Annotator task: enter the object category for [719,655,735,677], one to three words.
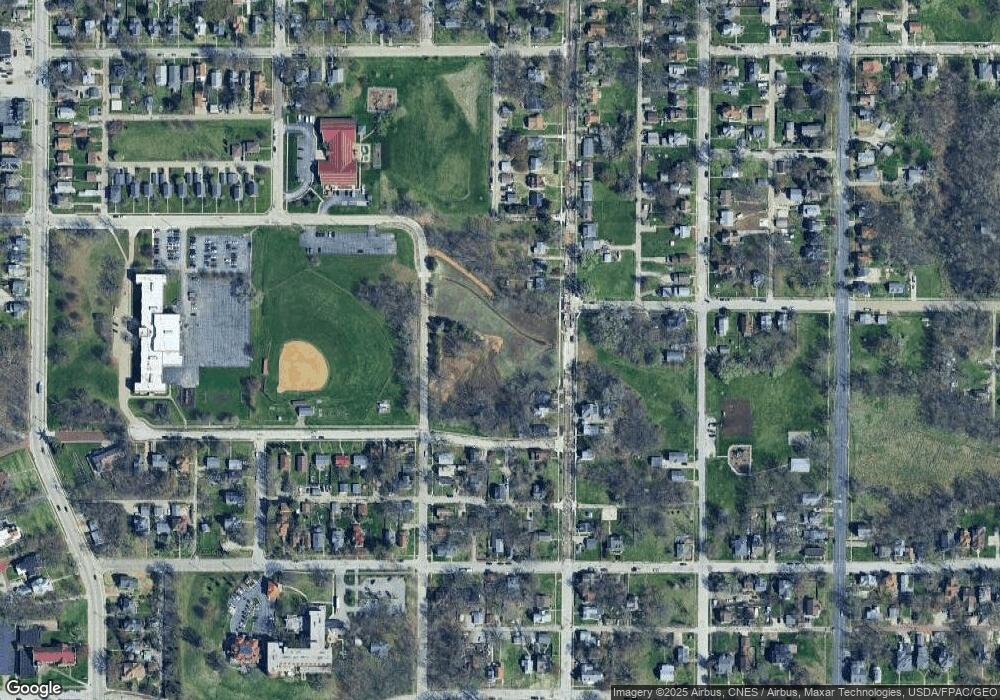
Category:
house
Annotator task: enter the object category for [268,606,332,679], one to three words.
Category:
building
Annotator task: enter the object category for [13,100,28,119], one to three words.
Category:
building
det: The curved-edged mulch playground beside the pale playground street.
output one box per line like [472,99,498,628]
[729,445,752,474]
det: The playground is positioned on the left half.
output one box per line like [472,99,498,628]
[367,88,397,112]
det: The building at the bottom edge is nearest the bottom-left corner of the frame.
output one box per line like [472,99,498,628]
[20,630,75,679]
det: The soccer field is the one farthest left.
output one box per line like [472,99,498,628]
[200,368,247,424]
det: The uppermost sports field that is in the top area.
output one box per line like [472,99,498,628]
[366,57,490,214]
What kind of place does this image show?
residential area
